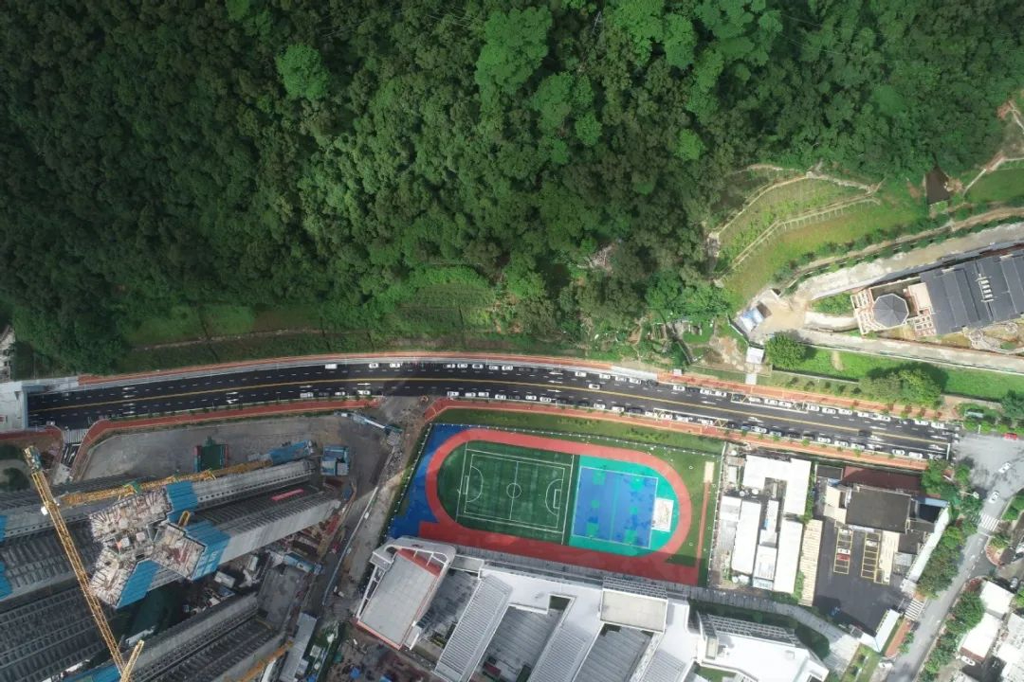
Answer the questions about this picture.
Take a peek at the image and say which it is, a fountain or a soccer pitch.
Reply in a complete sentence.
The image shows a soccer pitch.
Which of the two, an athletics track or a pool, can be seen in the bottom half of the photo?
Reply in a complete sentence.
The feature located in the bottom half of the photo is an athletics track.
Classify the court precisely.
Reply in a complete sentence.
In the photo, the court shows up as a basketball court.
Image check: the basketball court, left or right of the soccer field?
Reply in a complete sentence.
Compared with the soccer field, the basketball court is located further to the right.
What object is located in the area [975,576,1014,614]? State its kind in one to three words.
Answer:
house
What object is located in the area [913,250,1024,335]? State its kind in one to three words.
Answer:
house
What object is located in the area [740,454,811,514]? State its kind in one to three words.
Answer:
building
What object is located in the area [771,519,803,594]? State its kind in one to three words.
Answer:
shed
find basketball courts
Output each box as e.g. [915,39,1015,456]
[571,455,678,558]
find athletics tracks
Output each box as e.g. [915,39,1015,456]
[418,429,697,586]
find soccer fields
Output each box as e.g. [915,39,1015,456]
[437,441,579,548]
